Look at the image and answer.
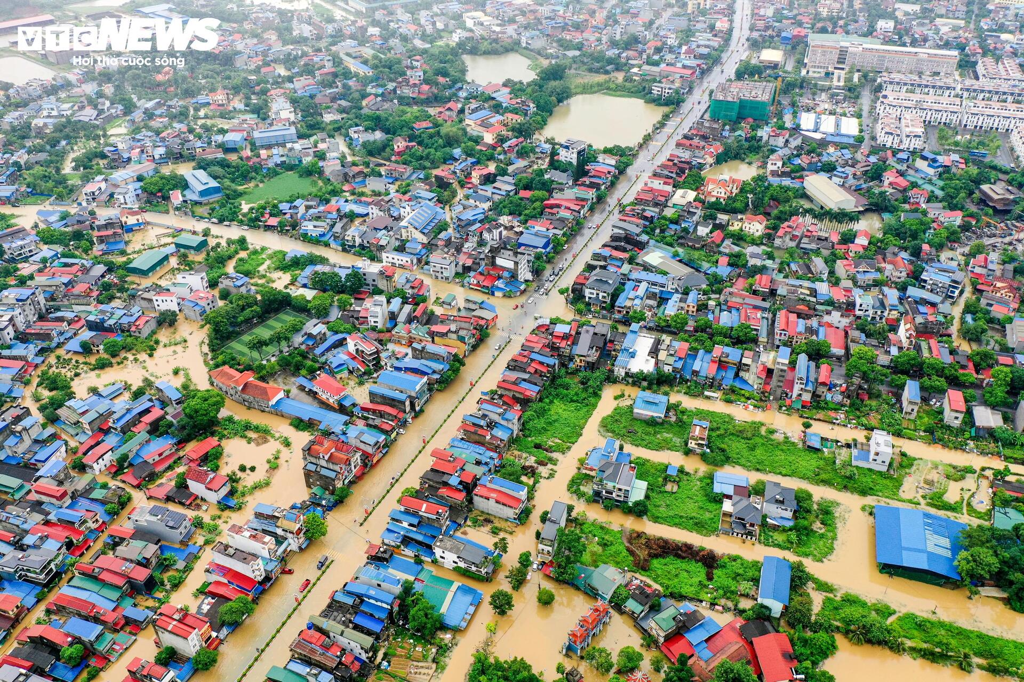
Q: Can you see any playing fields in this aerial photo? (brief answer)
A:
Yes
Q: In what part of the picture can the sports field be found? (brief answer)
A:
left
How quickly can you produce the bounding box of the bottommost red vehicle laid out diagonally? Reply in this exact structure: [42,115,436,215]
[296,577,313,594]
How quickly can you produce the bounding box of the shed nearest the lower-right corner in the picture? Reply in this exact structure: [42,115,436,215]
[974,584,1007,604]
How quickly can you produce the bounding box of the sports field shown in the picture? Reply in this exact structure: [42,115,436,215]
[224,309,305,363]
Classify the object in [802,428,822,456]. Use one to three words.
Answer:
shed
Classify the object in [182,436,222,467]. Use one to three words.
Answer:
house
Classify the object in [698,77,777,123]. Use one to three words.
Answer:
building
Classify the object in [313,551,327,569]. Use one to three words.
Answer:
vehicle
